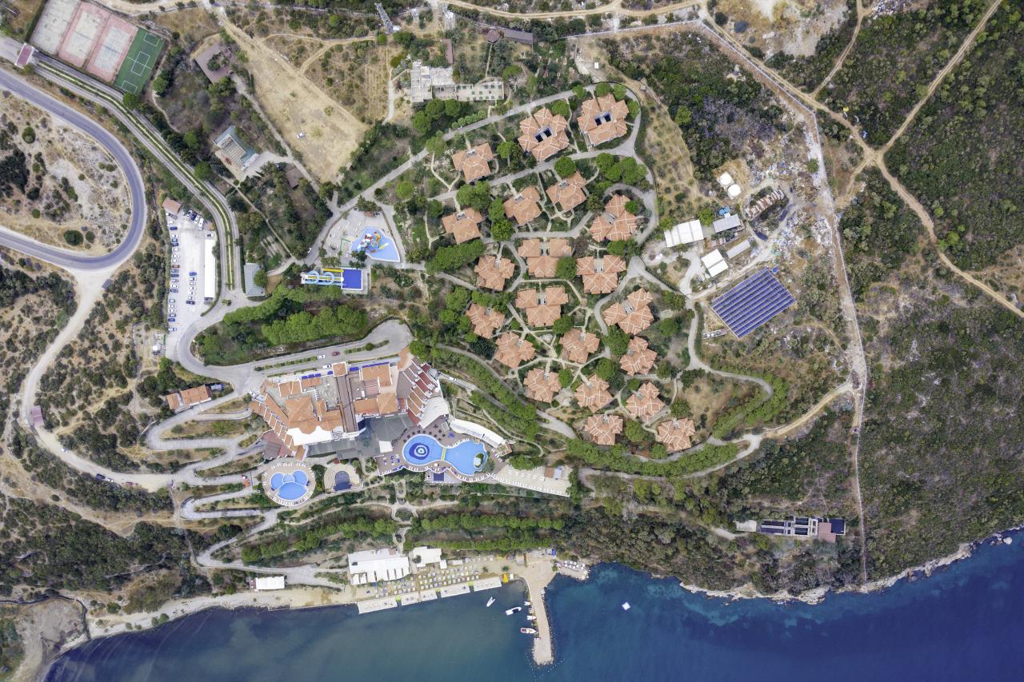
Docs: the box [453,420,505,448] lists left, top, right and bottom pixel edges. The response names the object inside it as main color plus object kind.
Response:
white tent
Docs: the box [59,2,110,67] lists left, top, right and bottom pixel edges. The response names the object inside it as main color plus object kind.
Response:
white tennis court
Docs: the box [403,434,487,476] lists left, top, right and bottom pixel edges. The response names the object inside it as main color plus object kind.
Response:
blue swimming pool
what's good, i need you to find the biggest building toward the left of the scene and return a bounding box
[250,347,440,460]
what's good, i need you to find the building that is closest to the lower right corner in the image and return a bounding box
[736,517,844,543]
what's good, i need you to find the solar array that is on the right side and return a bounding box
[711,269,794,339]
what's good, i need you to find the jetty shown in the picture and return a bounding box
[517,561,556,665]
